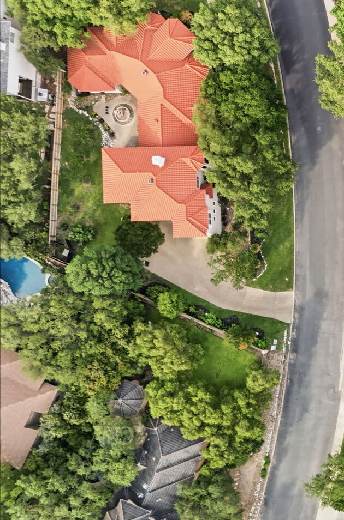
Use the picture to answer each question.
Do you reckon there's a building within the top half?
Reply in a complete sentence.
Yes, I can see a building within the top half.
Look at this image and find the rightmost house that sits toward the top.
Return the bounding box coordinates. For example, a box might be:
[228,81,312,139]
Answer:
[68,12,220,238]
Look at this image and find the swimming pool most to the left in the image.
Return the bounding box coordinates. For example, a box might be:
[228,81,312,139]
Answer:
[0,253,48,300]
